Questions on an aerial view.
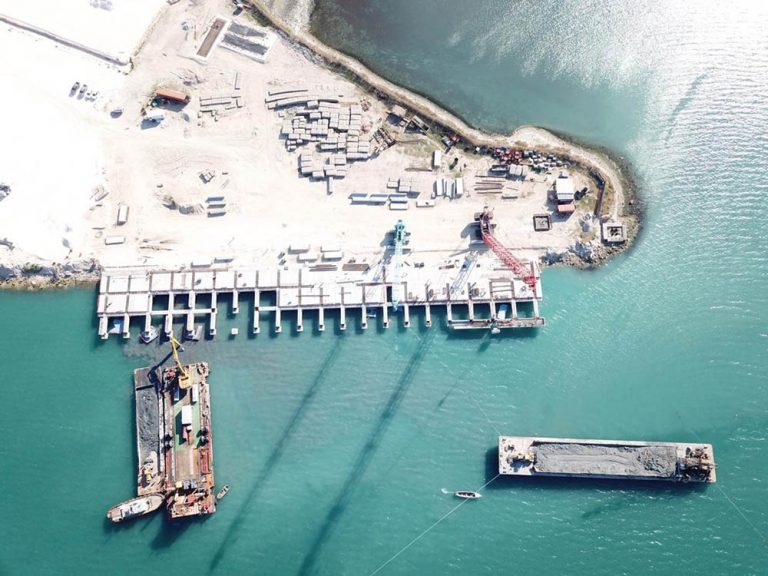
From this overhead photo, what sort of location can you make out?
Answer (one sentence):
What you see here is a port.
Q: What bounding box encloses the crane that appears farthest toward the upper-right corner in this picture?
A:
[472,202,541,336]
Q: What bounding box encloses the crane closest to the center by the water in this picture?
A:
[387,212,410,318]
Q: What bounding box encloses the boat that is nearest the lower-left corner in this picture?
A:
[105,495,166,524]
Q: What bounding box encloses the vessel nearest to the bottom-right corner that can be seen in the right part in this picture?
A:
[496,436,716,483]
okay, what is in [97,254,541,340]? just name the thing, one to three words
pier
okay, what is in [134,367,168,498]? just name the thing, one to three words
ship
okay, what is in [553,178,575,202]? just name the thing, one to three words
shed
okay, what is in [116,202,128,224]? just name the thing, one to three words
vehicle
